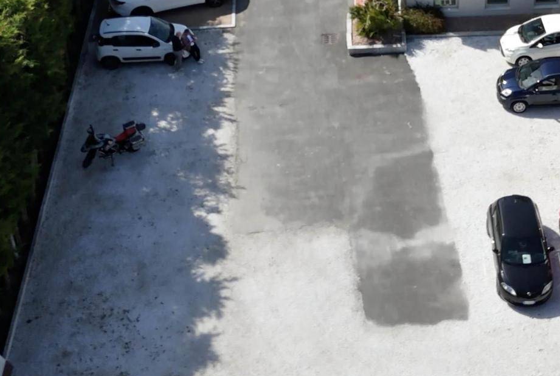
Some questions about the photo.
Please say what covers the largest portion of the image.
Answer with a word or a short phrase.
paved ground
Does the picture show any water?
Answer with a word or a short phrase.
No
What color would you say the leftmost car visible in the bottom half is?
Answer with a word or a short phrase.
black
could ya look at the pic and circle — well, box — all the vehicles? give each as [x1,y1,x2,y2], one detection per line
[89,13,190,70]
[113,0,224,15]
[484,195,554,307]
[497,56,560,113]
[497,11,560,66]
[75,115,141,162]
